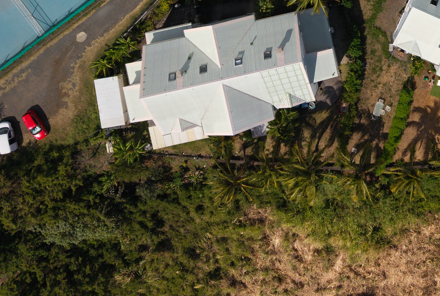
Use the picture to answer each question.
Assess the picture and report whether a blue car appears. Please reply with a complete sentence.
No, the frame has no blue car in it.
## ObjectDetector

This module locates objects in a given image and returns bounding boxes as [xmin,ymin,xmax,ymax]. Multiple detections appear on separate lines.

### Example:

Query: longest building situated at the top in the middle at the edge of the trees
[123,7,339,136]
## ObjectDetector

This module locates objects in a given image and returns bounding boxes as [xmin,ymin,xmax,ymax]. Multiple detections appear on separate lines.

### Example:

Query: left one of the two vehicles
[0,119,19,155]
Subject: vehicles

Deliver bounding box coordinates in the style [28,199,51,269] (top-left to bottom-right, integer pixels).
[0,119,19,155]
[24,108,49,140]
